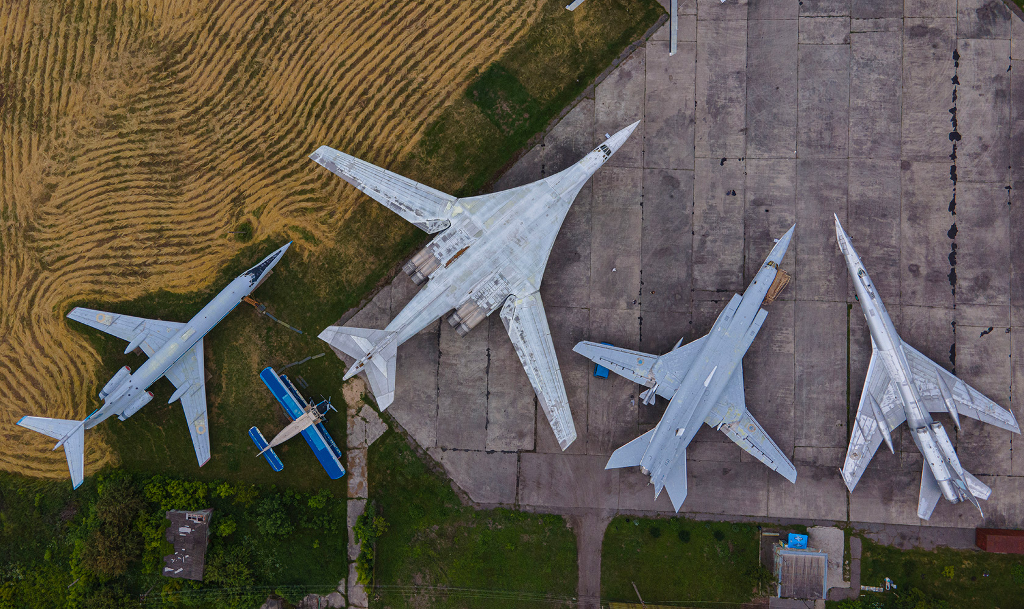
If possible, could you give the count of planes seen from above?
five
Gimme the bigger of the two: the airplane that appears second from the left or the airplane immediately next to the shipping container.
the airplane immediately next to the shipping container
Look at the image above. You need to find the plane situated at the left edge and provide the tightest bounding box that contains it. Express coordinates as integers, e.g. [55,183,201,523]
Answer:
[17,241,292,490]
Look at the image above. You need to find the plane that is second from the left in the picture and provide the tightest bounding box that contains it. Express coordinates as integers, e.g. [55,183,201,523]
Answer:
[249,366,345,479]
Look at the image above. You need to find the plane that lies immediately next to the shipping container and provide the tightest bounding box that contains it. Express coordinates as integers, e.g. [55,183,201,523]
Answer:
[834,213,1021,524]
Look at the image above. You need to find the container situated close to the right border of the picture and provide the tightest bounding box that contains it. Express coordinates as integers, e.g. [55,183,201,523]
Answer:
[975,529,1024,555]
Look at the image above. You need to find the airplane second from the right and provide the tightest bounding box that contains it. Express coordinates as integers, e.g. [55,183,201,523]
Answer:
[572,223,797,513]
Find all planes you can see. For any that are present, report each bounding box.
[834,213,1021,524]
[17,241,292,490]
[249,366,345,479]
[572,223,797,513]
[309,120,640,451]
